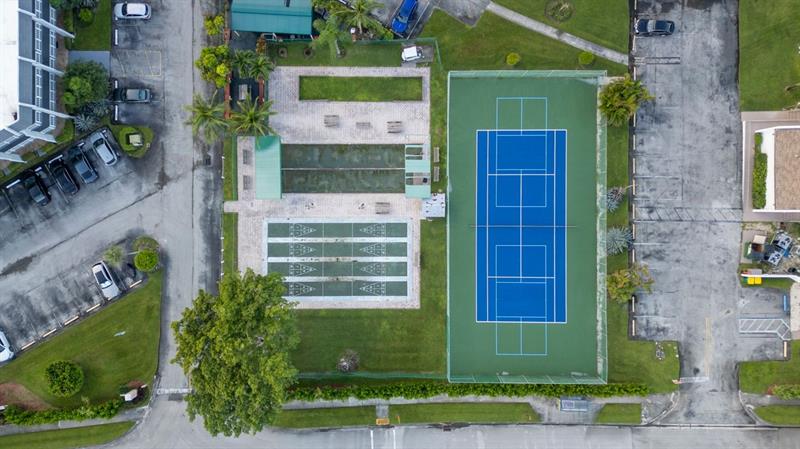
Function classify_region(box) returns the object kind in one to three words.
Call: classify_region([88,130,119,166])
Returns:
car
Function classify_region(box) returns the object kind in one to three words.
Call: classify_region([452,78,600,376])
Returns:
tennis court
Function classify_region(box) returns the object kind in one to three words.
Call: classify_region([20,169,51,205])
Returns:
car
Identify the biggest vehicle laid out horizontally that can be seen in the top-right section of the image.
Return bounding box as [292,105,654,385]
[637,15,677,35]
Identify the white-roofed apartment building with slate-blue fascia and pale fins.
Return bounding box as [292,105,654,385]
[0,0,73,166]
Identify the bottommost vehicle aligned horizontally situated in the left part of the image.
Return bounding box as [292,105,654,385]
[109,84,149,102]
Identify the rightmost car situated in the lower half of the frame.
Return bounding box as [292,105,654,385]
[88,262,120,300]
